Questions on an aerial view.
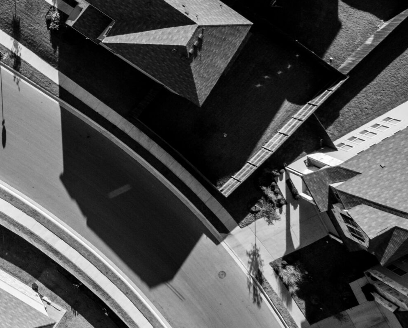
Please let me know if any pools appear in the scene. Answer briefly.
No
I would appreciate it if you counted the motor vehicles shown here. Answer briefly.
0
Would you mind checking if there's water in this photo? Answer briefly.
No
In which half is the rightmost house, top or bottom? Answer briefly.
bottom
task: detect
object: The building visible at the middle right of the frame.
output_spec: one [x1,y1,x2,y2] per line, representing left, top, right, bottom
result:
[294,104,408,262]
